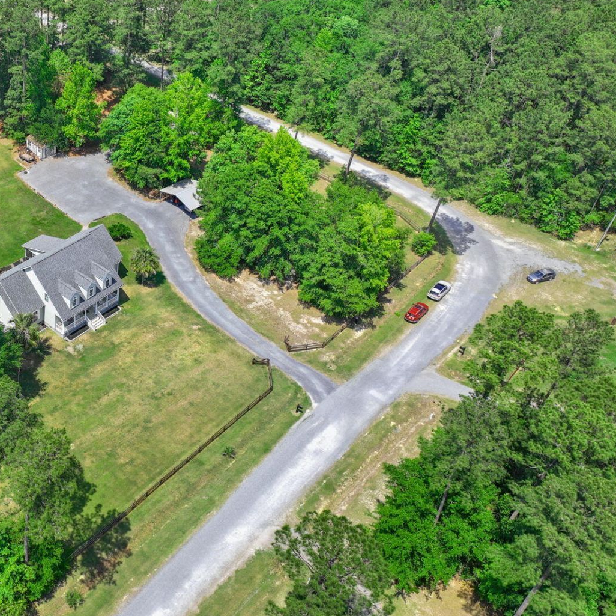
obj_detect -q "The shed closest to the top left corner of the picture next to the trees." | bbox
[27,132,59,159]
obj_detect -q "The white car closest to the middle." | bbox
[427,280,453,302]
